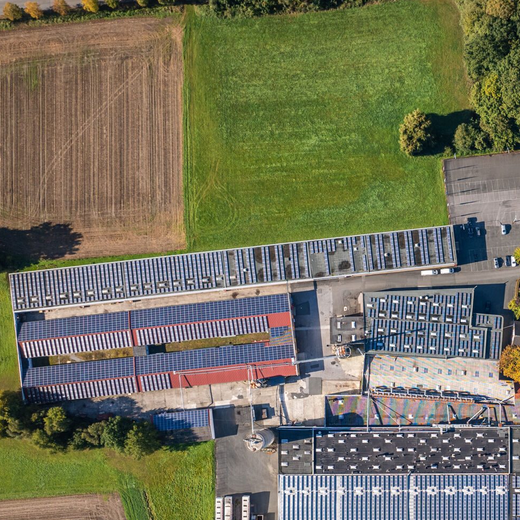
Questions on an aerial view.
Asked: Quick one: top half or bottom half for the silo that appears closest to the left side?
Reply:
bottom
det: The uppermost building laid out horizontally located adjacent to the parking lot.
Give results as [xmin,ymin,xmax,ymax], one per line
[9,224,458,313]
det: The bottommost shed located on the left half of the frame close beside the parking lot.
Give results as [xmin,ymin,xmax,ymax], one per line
[24,341,299,403]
